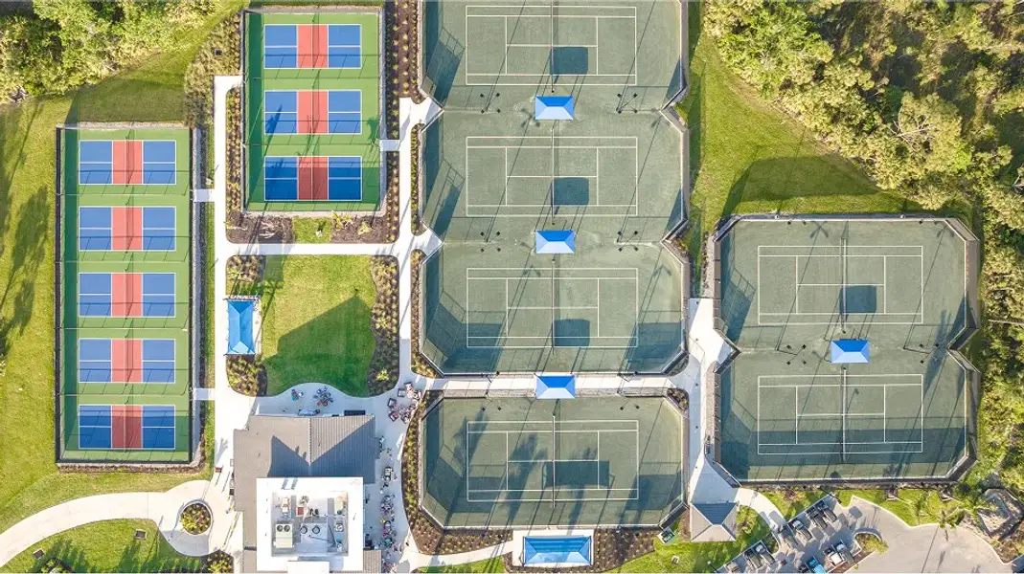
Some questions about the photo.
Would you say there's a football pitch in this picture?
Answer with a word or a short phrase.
No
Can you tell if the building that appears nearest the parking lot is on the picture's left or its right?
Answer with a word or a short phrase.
right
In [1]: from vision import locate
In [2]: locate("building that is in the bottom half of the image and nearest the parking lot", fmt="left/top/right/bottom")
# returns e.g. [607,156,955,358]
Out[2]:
[686,499,737,543]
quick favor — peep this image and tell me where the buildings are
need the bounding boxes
[686,499,737,543]
[234,414,382,574]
